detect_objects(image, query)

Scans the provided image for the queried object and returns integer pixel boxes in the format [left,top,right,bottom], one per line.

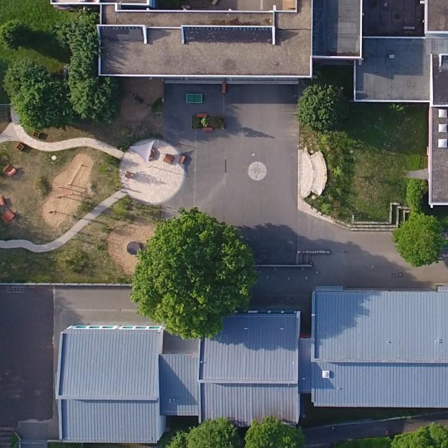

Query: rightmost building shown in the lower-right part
[311,283,448,407]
